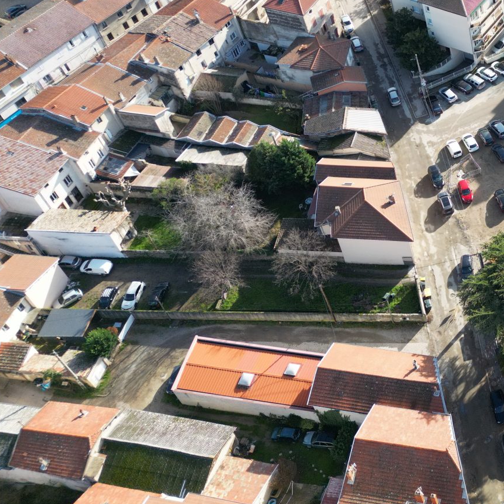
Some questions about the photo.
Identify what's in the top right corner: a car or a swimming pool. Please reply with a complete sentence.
You can see a car in the top right corner.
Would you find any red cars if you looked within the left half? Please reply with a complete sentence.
No, I see no red car within the left half.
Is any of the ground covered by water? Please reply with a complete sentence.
No, no water is visible.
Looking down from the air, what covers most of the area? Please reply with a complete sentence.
Most of the picture is covered by buildings.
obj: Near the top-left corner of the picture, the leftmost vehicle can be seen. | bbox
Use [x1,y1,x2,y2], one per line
[1,0,30,19]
